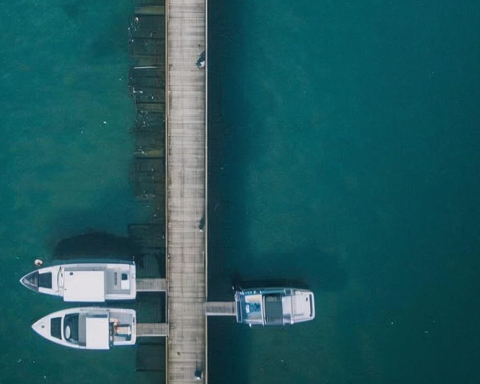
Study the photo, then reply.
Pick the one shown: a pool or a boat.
boat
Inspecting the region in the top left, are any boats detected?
No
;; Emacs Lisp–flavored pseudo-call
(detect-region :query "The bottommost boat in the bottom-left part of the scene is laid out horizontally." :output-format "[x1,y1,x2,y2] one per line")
[31,301,157,349]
